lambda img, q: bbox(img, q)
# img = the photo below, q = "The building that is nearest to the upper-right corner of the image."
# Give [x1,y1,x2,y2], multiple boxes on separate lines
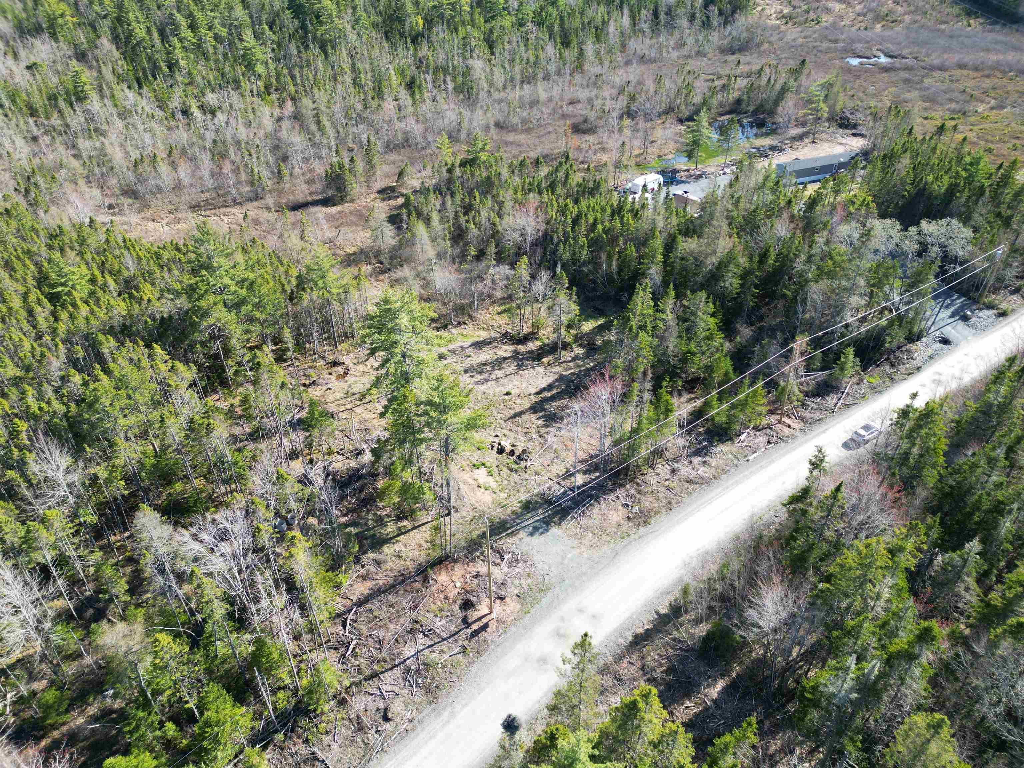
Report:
[768,149,866,187]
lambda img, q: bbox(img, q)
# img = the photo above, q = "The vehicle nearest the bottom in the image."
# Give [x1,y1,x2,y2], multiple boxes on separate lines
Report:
[849,414,888,441]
